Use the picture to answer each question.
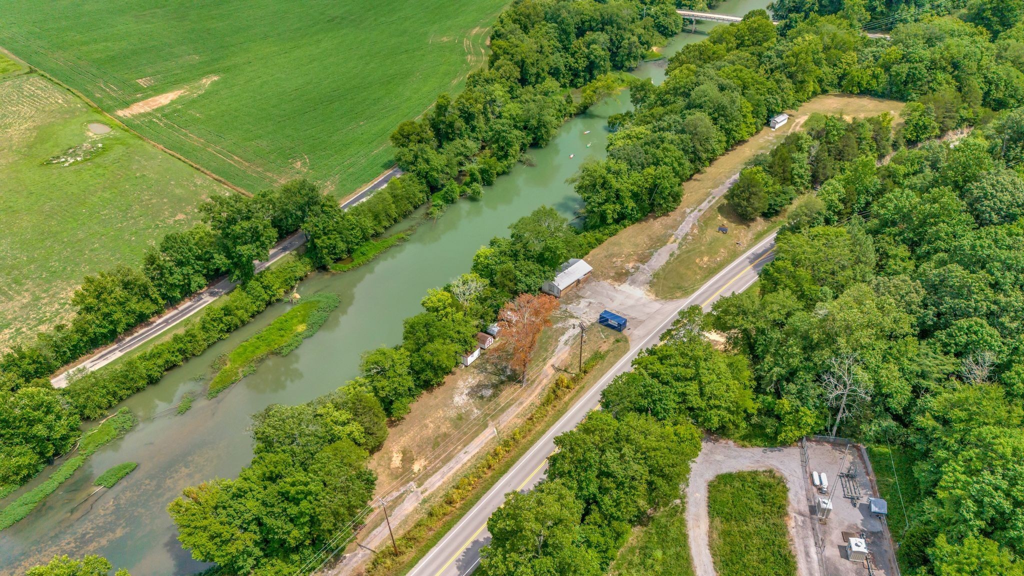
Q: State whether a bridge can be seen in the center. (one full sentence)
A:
No, in the center there is no bridge.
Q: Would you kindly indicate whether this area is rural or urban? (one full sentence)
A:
The land in this view is best described as rural.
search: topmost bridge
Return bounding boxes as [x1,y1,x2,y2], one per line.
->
[679,7,749,32]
